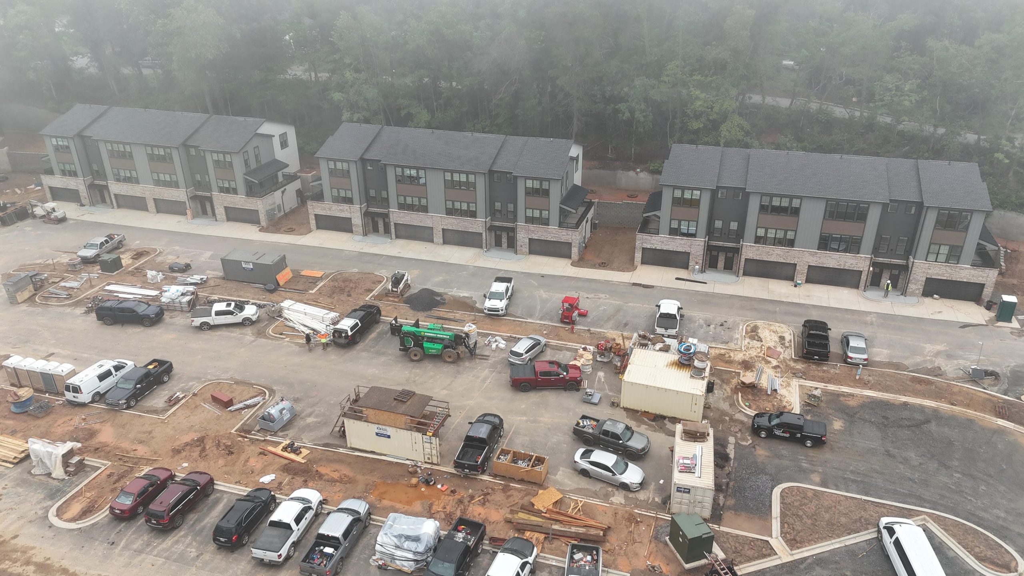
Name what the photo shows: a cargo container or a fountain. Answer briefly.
cargo container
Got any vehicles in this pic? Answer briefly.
Yes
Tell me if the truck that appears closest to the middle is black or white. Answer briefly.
white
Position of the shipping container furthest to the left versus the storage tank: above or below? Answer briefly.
above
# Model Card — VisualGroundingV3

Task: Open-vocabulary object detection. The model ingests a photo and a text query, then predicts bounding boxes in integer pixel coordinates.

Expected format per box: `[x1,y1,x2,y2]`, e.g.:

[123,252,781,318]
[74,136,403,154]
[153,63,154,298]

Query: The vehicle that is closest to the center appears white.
[480,277,515,317]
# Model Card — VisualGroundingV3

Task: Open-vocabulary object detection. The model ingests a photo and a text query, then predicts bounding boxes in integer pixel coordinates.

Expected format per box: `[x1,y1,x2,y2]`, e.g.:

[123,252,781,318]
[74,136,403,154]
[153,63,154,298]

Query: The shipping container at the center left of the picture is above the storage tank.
[220,249,292,286]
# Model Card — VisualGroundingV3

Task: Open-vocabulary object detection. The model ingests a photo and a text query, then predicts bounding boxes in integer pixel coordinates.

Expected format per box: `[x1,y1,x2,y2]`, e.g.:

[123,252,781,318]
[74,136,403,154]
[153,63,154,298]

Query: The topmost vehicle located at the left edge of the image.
[34,196,63,225]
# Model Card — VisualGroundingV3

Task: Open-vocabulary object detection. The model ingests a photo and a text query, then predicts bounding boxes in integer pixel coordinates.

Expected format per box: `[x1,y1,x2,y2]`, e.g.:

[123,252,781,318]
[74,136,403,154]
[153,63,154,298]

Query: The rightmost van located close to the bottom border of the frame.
[878,519,958,576]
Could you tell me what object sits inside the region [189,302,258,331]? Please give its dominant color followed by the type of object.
white truck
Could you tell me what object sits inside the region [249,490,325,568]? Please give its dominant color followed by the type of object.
white truck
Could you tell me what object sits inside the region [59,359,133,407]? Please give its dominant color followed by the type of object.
white van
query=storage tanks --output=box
[258,398,295,431]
